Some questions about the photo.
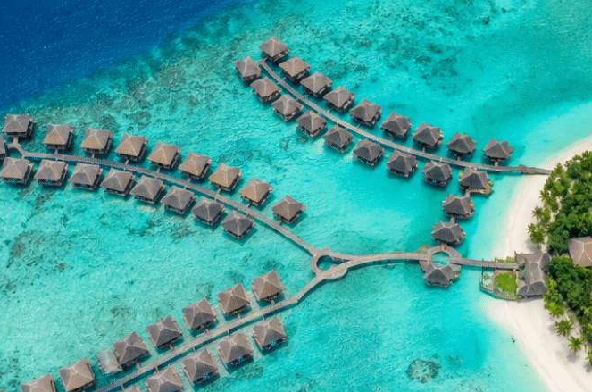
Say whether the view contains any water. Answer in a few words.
Yes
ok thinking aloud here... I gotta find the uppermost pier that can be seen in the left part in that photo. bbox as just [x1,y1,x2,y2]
[8,139,319,256]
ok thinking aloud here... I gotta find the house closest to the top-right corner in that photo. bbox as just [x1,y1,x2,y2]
[485,141,513,166]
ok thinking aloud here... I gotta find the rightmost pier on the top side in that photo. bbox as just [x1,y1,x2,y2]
[257,60,552,177]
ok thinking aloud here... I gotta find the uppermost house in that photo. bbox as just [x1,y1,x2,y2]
[260,40,291,67]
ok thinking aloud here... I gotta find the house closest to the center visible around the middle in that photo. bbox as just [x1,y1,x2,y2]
[272,195,308,230]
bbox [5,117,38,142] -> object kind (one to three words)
house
